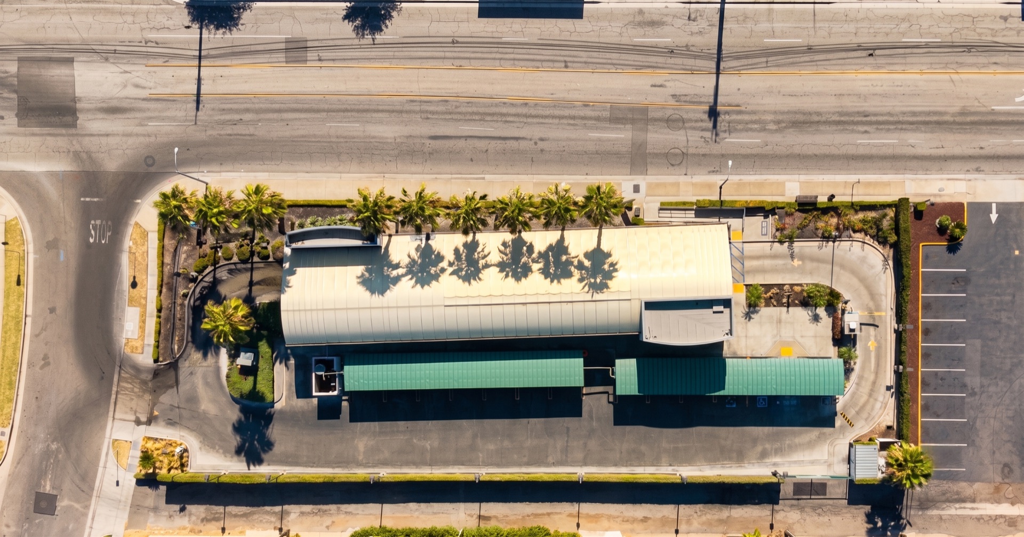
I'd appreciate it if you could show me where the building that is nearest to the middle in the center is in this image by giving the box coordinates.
[281,223,735,347]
